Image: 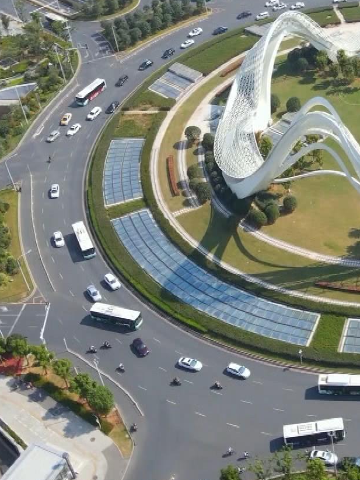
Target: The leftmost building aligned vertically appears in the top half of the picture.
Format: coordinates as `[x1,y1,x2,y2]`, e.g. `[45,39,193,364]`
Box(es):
[207,105,224,138]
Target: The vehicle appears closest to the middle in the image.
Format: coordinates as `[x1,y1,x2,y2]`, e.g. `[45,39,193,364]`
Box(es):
[103,273,119,290]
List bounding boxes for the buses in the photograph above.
[71,79,107,106]
[317,374,360,396]
[72,221,96,258]
[89,304,144,330]
[282,418,348,447]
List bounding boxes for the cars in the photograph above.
[162,48,176,57]
[236,11,252,19]
[291,0,305,9]
[47,130,59,141]
[255,10,269,19]
[272,1,287,10]
[129,339,151,355]
[310,452,338,466]
[84,285,101,302]
[50,184,60,198]
[139,59,153,69]
[107,102,119,112]
[88,107,100,118]
[225,362,251,377]
[181,38,195,47]
[68,125,80,136]
[53,232,63,246]
[188,26,202,36]
[103,273,119,290]
[265,0,279,7]
[60,114,72,125]
[177,356,201,372]
[116,75,129,85]
[213,25,228,34]
[337,456,360,469]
